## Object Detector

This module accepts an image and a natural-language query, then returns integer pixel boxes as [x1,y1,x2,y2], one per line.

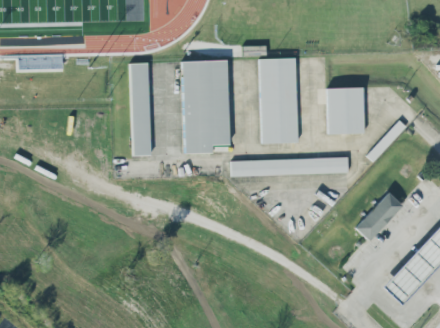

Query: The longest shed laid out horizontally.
[229,156,349,176]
